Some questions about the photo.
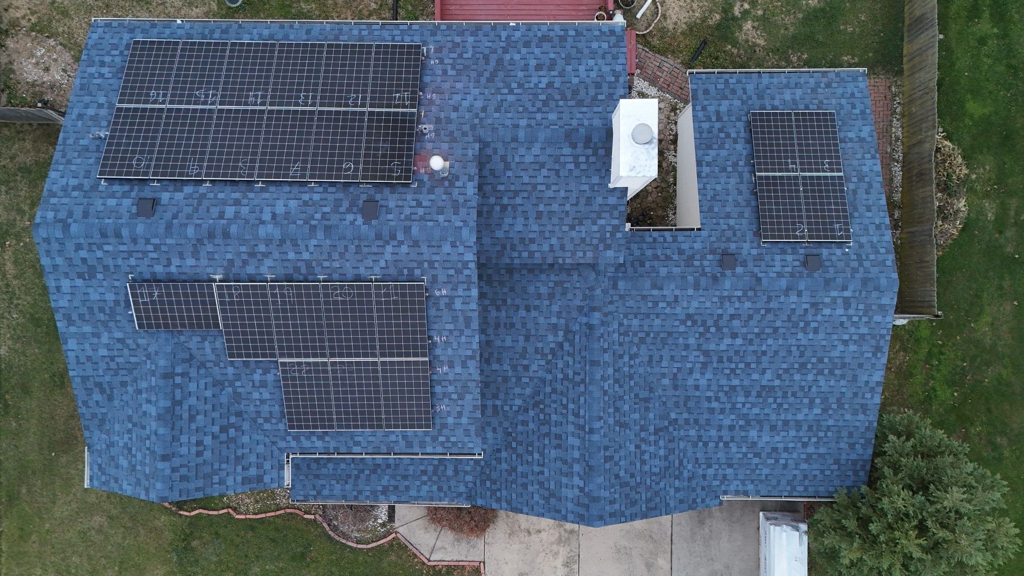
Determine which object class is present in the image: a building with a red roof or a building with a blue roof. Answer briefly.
building with a blue roof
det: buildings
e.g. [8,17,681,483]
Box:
[32,18,899,528]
